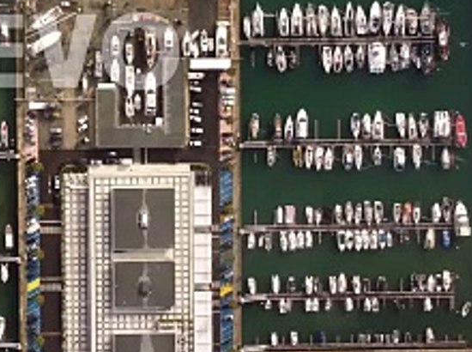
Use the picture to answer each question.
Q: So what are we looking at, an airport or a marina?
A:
marina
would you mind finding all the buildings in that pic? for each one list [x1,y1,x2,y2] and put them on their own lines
[94,56,189,147]
[62,160,212,352]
